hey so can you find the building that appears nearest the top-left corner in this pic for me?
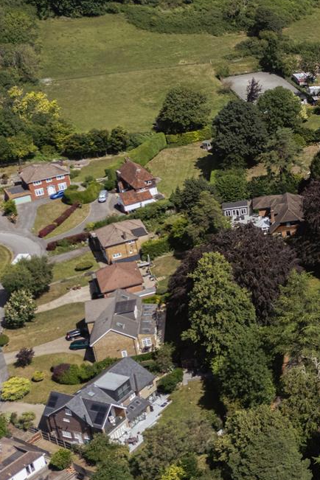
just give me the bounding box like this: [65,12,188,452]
[11,156,75,207]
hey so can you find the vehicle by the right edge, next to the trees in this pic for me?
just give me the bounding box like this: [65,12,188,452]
[305,83,320,96]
